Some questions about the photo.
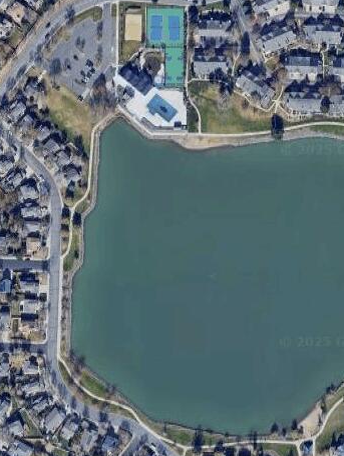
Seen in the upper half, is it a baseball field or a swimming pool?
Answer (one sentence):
There is a swimming pool in the upper half.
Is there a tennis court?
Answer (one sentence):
Yes, the picture does show a tennis court.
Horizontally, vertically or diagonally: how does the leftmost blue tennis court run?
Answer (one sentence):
What the image shows is the leftmost blue tennis court lying vertically.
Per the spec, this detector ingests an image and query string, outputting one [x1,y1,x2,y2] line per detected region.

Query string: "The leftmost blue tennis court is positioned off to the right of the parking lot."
[147,7,166,48]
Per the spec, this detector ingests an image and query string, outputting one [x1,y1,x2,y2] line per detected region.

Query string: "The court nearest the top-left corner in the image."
[125,14,142,42]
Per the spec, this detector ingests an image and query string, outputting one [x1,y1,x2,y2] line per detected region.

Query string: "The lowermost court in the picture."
[165,67,185,88]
